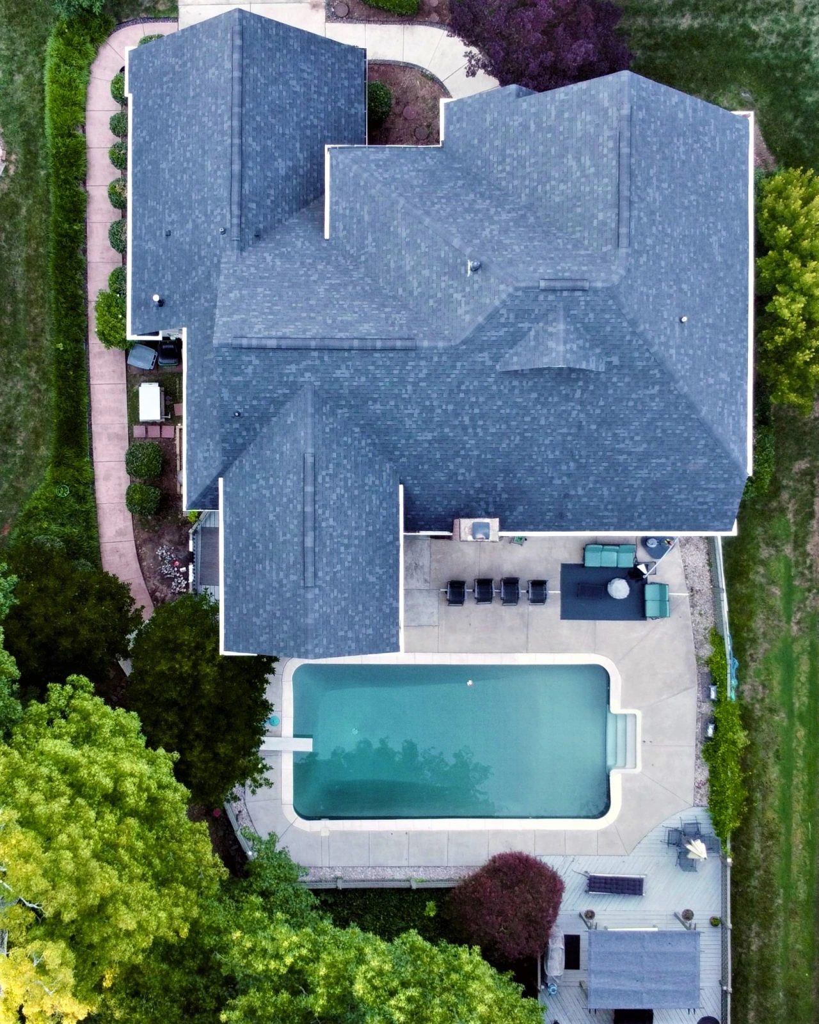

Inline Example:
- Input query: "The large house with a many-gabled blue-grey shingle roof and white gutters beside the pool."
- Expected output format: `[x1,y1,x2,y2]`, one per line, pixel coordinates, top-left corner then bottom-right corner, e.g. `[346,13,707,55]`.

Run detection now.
[125,9,755,659]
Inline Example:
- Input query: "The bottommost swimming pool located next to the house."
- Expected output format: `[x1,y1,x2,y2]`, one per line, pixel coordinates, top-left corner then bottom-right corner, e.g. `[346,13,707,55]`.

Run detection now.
[282,654,641,837]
